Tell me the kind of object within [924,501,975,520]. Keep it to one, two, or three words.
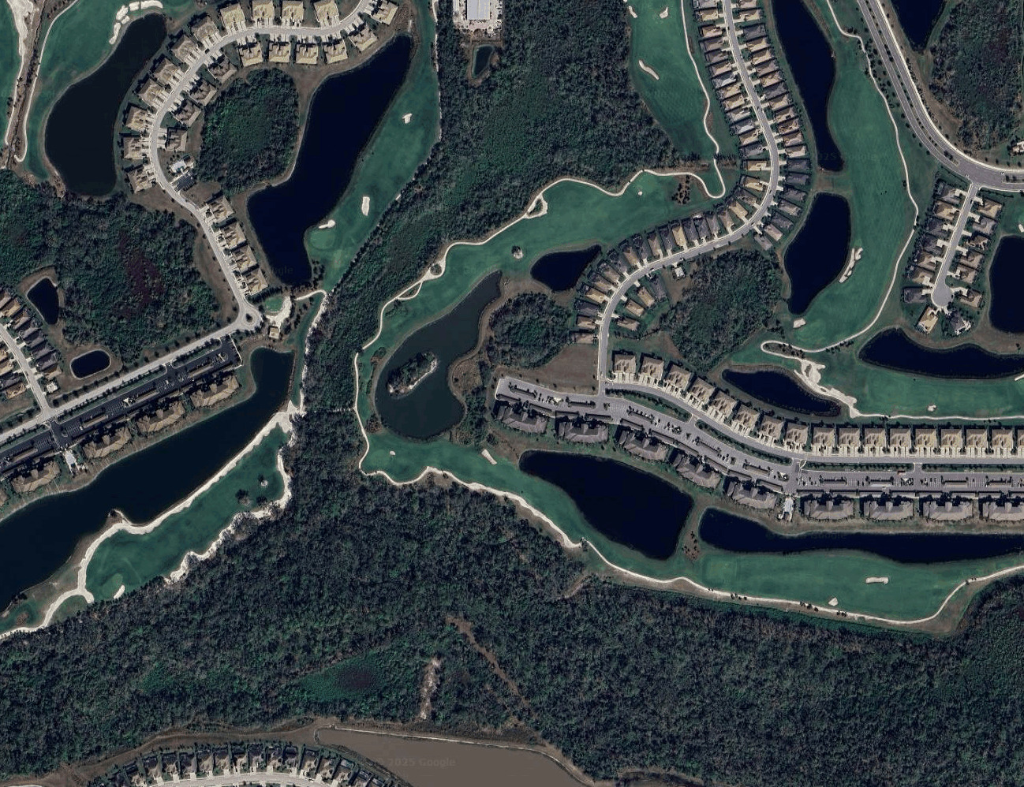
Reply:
building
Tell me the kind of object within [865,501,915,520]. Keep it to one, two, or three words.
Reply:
building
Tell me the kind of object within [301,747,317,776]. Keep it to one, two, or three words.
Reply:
house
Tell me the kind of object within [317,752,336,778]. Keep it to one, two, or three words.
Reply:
house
